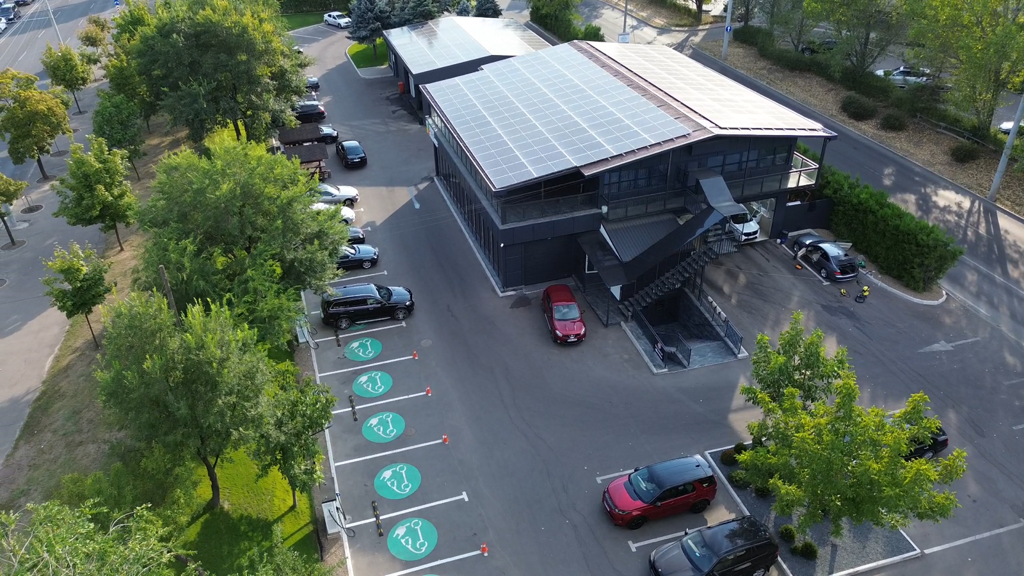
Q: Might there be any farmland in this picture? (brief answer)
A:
No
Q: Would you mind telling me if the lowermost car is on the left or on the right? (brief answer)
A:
right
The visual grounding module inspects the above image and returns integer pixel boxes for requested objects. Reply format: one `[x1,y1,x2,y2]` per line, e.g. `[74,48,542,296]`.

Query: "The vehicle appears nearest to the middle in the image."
[540,284,588,344]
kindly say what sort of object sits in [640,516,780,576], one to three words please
car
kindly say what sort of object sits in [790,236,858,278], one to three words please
car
